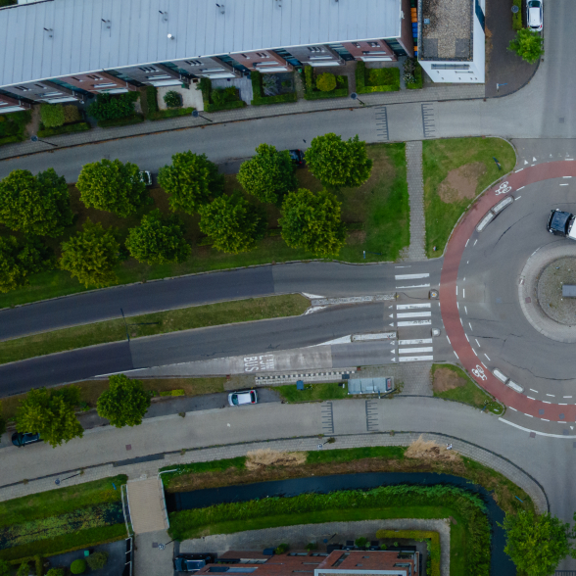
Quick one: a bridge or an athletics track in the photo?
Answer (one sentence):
It is a bridge that can be seen here.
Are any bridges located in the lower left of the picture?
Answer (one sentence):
Yes, looking in the lower left of the picture, one can make out a bridge.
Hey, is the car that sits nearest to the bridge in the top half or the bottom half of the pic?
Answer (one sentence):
It is in the bottom half that the car that sits nearest to the bridge appears.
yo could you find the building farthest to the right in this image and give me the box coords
[418,0,484,83]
